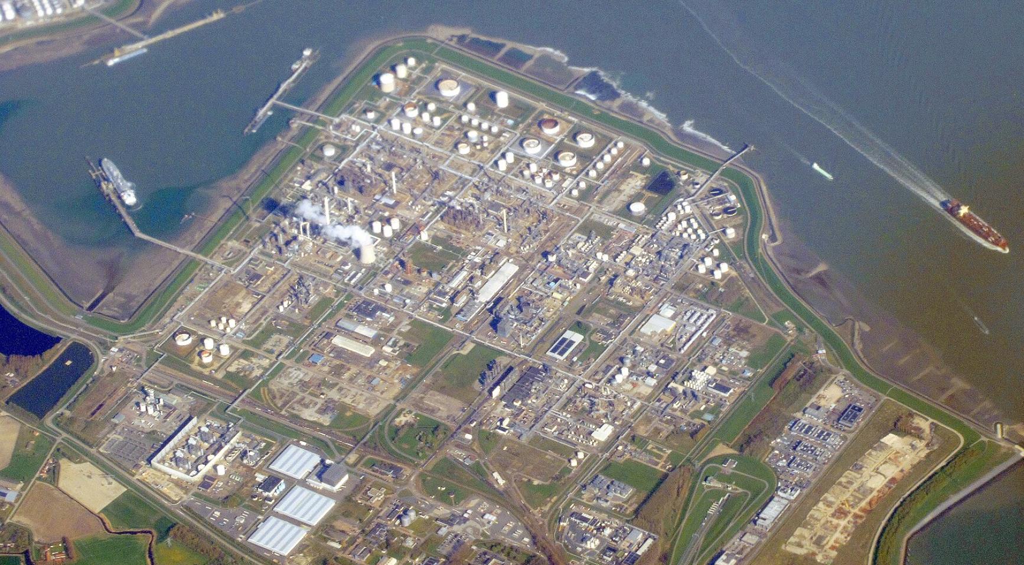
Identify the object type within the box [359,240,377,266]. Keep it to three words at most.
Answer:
cooling tower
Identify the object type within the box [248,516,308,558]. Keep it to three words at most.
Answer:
building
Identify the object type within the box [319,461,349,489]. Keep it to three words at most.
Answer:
building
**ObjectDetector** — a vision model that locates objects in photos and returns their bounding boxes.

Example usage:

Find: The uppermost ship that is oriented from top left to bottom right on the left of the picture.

[99,158,141,207]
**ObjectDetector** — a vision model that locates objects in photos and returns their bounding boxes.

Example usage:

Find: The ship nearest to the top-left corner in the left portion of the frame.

[108,51,147,65]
